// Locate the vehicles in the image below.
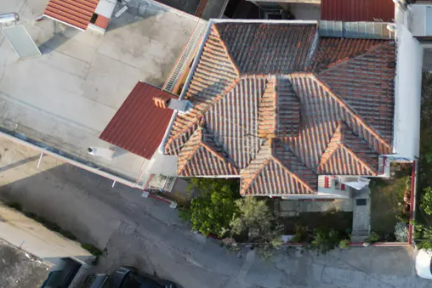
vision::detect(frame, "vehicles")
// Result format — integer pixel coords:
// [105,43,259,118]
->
[413,250,432,281]
[104,263,181,288]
